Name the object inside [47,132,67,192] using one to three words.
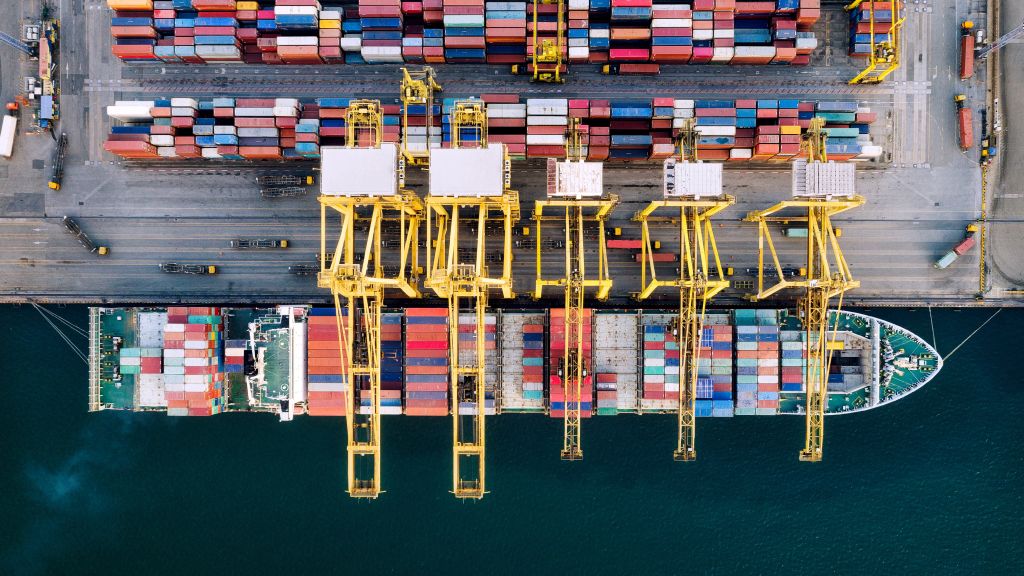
vehicle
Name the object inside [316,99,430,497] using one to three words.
container crane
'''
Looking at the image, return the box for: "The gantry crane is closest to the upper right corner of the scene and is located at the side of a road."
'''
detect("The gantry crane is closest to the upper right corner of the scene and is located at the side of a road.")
[843,0,903,84]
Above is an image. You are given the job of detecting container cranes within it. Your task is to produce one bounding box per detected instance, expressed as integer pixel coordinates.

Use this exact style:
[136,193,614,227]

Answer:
[424,100,522,504]
[843,0,903,84]
[624,119,733,460]
[316,99,430,497]
[525,0,567,83]
[521,119,617,459]
[400,59,446,166]
[745,119,868,460]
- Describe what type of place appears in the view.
port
